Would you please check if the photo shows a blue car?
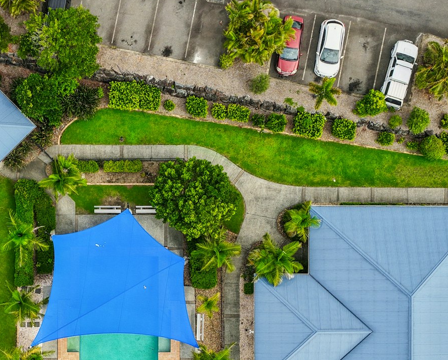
No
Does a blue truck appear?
No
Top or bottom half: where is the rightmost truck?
top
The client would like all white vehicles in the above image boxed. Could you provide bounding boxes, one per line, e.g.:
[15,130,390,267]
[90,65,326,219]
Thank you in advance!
[379,36,419,115]
[313,17,345,81]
